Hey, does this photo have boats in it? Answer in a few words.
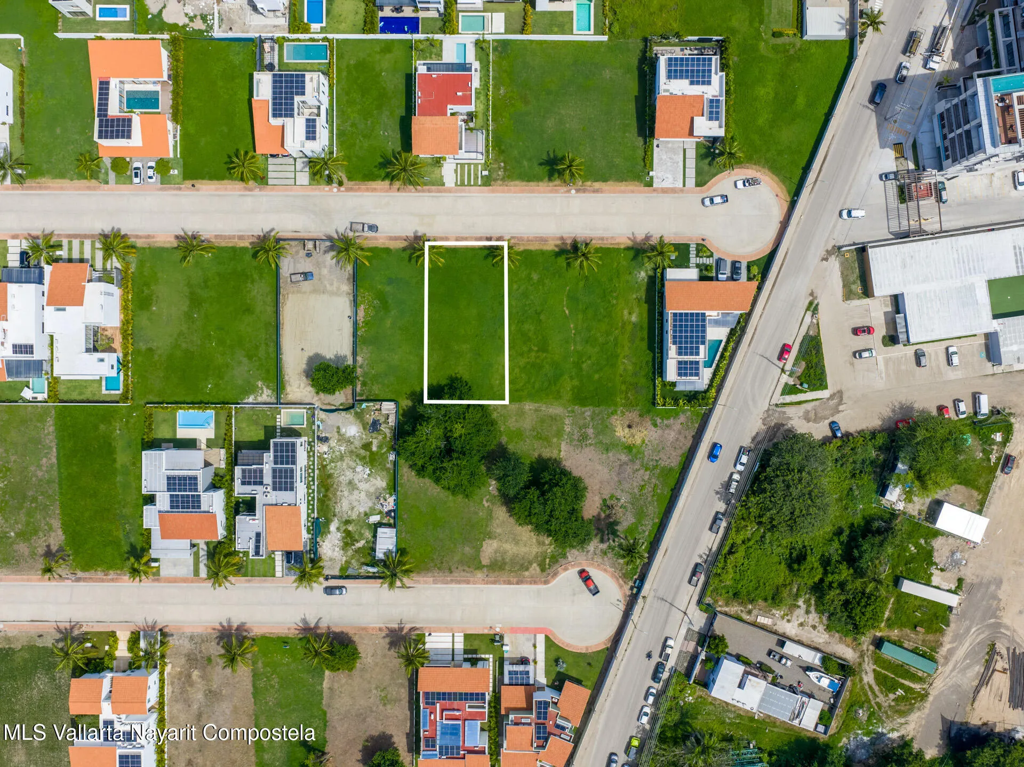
Yes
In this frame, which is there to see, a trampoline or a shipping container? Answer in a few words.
shipping container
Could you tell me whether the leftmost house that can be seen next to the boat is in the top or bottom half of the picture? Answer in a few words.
bottom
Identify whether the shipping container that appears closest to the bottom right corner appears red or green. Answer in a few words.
green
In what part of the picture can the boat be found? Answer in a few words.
bottom right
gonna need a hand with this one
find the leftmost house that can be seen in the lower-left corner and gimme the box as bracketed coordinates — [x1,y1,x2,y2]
[68,667,160,767]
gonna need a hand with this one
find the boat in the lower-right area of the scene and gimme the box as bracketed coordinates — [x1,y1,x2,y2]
[803,669,848,699]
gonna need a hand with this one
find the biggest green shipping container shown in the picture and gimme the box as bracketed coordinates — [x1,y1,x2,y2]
[875,636,938,674]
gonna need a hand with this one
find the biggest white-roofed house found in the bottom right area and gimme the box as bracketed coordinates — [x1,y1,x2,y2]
[706,654,799,721]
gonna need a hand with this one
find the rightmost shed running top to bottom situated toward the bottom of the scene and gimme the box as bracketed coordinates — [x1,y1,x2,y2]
[878,458,907,503]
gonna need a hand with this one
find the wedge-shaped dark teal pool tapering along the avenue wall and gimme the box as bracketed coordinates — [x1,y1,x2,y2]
[702,338,724,369]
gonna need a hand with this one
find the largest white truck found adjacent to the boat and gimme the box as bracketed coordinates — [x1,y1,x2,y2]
[778,638,822,665]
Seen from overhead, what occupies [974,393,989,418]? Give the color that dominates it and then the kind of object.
white vehicle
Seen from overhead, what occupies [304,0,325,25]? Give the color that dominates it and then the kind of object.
blue swimming pool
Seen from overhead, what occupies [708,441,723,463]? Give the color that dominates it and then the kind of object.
blue car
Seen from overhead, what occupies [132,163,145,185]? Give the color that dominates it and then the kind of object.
white vehicle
